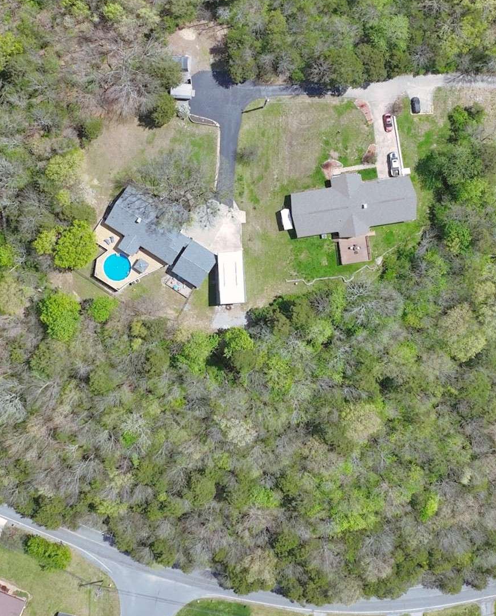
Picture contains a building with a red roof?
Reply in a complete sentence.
No, no building with a red roof can be seen from above.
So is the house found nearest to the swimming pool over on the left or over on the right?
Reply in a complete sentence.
The house found nearest to the swimming pool sits on the left side.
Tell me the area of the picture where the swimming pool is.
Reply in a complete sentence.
The swimming pool sits in the left section of the image.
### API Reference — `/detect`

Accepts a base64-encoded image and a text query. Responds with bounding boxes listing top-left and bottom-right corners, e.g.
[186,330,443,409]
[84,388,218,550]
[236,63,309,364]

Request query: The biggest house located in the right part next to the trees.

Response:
[290,173,416,238]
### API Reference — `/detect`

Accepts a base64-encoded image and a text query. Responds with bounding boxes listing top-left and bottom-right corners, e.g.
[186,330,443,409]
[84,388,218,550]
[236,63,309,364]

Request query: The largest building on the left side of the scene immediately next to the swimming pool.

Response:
[105,185,189,264]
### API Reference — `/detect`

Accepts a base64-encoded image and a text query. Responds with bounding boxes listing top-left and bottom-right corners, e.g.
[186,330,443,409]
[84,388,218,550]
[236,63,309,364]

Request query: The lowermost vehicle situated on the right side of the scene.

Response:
[390,151,402,175]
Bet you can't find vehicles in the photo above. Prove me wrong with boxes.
[383,113,395,132]
[390,151,402,175]
[411,95,420,114]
